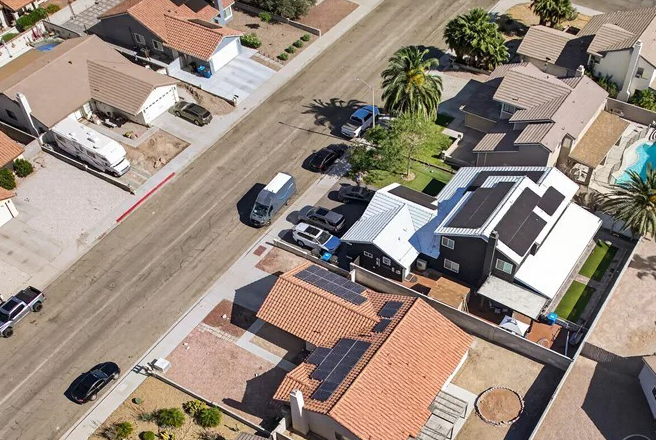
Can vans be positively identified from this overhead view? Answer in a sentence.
Yes, looking at the shot, I can spot a van.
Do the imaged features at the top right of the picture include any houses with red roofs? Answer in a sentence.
No, looking at the top right of the picture, there is no house with a red roof.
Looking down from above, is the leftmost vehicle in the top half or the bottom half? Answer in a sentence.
You can find the leftmost vehicle in the bottom half.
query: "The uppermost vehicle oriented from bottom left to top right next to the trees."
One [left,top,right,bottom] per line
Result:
[340,99,382,137]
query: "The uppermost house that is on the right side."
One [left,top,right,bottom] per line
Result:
[516,5,656,104]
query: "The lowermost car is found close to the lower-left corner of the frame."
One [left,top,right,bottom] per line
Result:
[65,358,122,407]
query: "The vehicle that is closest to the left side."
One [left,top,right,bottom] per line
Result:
[0,286,47,342]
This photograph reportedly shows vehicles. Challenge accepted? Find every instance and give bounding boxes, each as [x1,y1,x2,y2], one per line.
[65,358,122,407]
[336,179,378,206]
[168,99,214,126]
[308,140,345,171]
[0,286,47,342]
[294,217,345,252]
[243,168,296,227]
[309,201,360,233]
[340,99,382,137]
[49,114,136,178]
